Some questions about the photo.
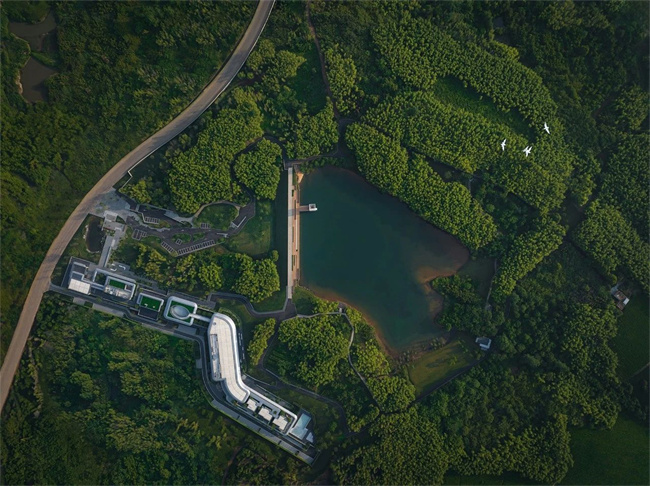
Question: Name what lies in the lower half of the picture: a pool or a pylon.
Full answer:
What appears in the lower half of the picture is a pool.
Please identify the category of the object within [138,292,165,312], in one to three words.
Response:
building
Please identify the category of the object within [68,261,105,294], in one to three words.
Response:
building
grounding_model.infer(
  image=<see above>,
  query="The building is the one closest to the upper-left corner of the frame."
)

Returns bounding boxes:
[102,211,127,241]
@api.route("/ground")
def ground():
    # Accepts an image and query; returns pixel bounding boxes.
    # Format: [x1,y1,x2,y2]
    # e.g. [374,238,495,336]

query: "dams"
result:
[286,162,300,291]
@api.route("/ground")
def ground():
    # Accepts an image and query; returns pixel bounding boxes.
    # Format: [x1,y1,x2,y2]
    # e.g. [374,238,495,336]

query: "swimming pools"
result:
[289,409,316,443]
